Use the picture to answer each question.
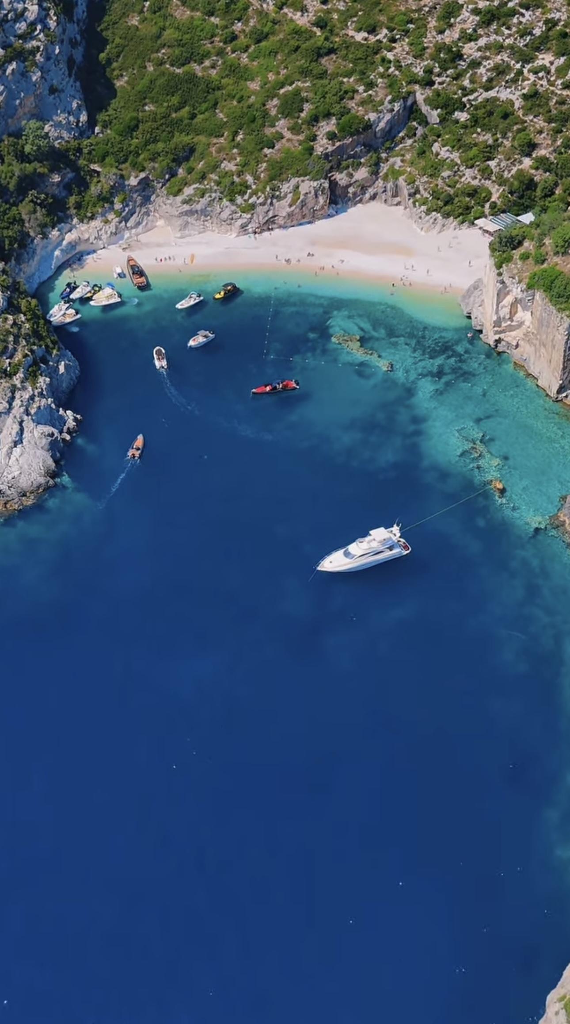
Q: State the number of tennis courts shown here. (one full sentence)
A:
There are no tennis courts in the image.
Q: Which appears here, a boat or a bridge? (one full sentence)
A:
The image shows a boat.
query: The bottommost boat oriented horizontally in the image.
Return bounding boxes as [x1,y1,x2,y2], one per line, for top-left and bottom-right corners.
[292,530,414,600]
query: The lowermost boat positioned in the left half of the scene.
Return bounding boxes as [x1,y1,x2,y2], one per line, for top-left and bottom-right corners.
[126,431,144,460]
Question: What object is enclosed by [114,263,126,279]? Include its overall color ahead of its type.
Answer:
white boat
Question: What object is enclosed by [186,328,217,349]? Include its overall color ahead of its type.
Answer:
white boat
